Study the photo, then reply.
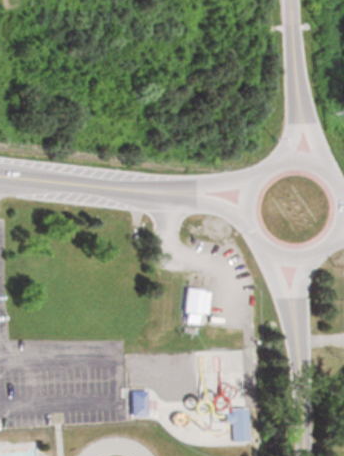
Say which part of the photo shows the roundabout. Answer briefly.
right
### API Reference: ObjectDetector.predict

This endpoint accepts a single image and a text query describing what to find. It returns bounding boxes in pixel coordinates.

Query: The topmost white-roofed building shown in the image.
[187,288,213,316]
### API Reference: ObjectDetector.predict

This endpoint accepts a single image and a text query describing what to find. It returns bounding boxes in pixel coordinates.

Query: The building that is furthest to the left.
[133,390,150,416]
